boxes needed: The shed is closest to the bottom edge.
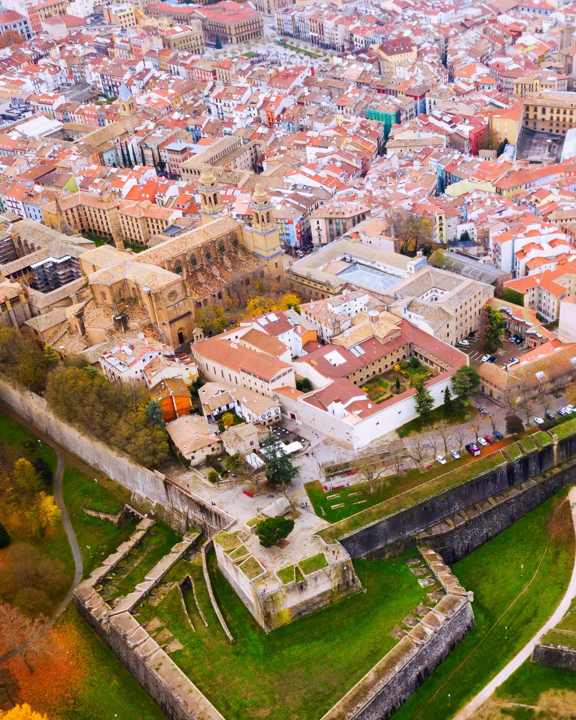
[260,498,292,519]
